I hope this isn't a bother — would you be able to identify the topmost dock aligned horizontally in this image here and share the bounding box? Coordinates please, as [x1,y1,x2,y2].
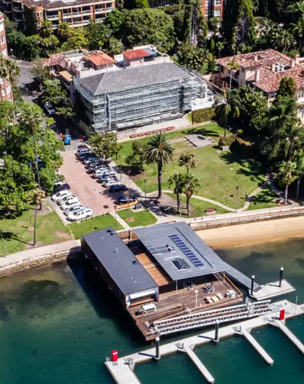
[248,279,297,302]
